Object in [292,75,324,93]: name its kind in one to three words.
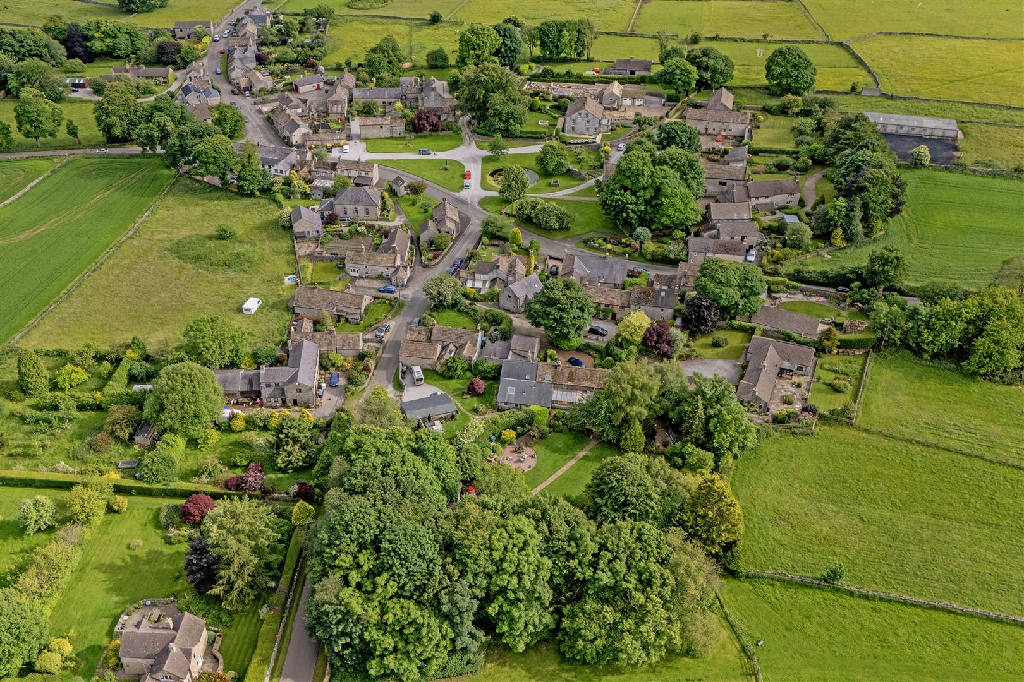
barn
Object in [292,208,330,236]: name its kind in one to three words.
building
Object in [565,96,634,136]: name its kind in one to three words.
house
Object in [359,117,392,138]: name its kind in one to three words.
barn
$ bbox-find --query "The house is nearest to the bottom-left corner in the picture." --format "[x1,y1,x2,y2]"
[119,611,218,682]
